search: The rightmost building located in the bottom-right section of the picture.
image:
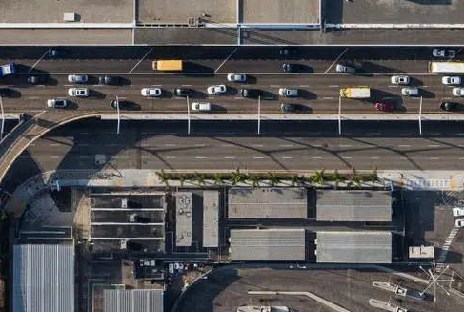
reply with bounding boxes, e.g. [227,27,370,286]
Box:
[408,245,435,259]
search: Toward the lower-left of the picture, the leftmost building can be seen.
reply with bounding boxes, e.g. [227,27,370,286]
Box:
[12,242,76,312]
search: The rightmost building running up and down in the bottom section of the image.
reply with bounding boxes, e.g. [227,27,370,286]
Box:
[202,187,219,247]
